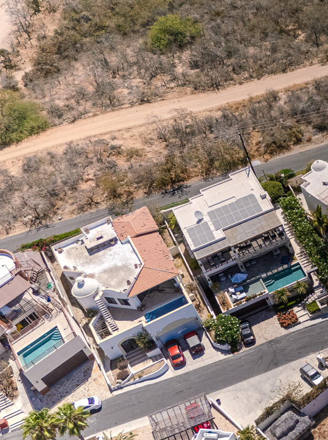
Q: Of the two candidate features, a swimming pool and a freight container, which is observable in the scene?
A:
swimming pool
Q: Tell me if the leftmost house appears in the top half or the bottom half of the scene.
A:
bottom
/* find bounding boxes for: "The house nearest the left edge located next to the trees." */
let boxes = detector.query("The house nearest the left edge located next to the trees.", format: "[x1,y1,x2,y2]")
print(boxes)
[0,249,93,390]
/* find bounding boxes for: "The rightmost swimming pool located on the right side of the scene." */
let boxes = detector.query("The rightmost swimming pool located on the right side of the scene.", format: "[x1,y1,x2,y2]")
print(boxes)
[259,261,309,295]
